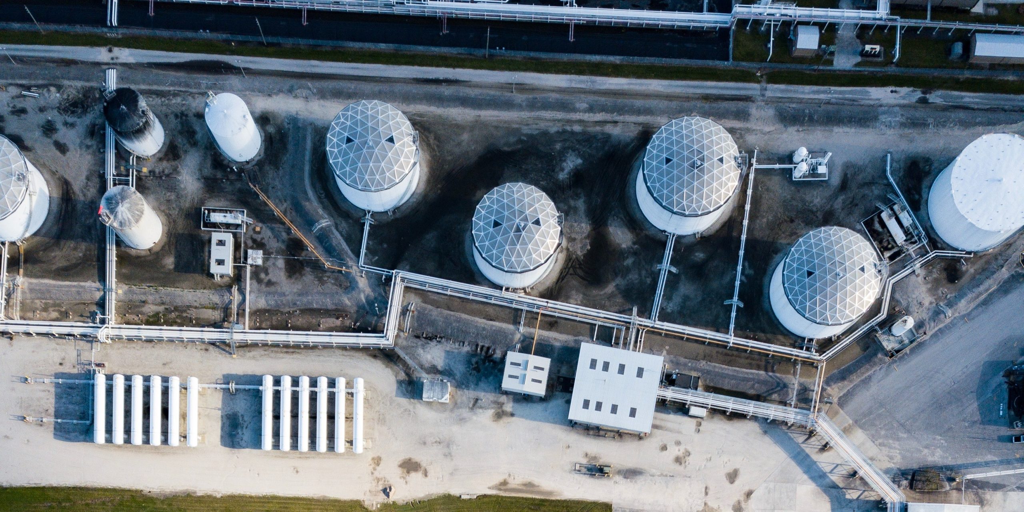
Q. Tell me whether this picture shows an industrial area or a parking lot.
industrial area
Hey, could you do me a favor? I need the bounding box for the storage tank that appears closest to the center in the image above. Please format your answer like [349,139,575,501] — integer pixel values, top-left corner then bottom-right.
[472,183,571,288]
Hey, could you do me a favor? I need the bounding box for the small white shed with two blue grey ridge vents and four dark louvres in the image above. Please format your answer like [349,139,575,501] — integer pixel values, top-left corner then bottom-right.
[501,351,551,399]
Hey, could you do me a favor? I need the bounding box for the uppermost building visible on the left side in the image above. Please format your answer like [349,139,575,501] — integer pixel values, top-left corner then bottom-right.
[210,233,235,281]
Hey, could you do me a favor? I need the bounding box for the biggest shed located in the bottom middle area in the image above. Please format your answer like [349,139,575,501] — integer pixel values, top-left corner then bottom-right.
[567,342,663,440]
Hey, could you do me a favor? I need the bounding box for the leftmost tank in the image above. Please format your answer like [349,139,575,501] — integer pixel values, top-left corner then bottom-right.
[0,138,52,240]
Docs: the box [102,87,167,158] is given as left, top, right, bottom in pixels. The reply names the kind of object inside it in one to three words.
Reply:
storage tank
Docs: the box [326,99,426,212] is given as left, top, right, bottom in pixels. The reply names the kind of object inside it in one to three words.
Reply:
storage tank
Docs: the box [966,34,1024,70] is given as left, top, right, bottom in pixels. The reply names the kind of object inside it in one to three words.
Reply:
building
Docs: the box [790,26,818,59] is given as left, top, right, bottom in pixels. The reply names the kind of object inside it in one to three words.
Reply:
building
